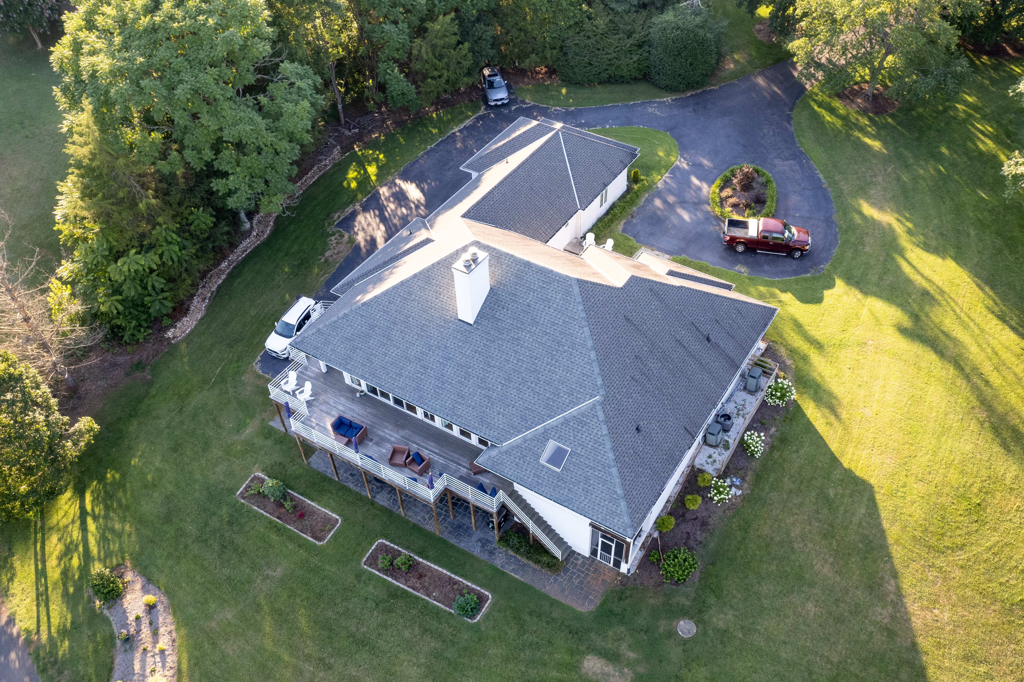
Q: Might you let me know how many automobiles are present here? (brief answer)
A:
2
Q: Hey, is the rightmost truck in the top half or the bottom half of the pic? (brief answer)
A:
top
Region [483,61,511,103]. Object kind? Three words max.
car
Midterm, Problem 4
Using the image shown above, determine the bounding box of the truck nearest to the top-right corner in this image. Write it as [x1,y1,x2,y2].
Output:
[720,216,817,260]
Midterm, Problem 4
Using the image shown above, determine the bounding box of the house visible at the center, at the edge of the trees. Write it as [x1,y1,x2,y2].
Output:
[285,116,781,579]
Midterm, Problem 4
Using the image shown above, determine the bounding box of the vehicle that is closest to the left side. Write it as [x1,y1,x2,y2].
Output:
[263,296,321,359]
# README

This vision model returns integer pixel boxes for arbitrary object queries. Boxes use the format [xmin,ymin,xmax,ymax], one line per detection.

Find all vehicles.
[263,296,321,359]
[720,216,817,260]
[483,61,511,103]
